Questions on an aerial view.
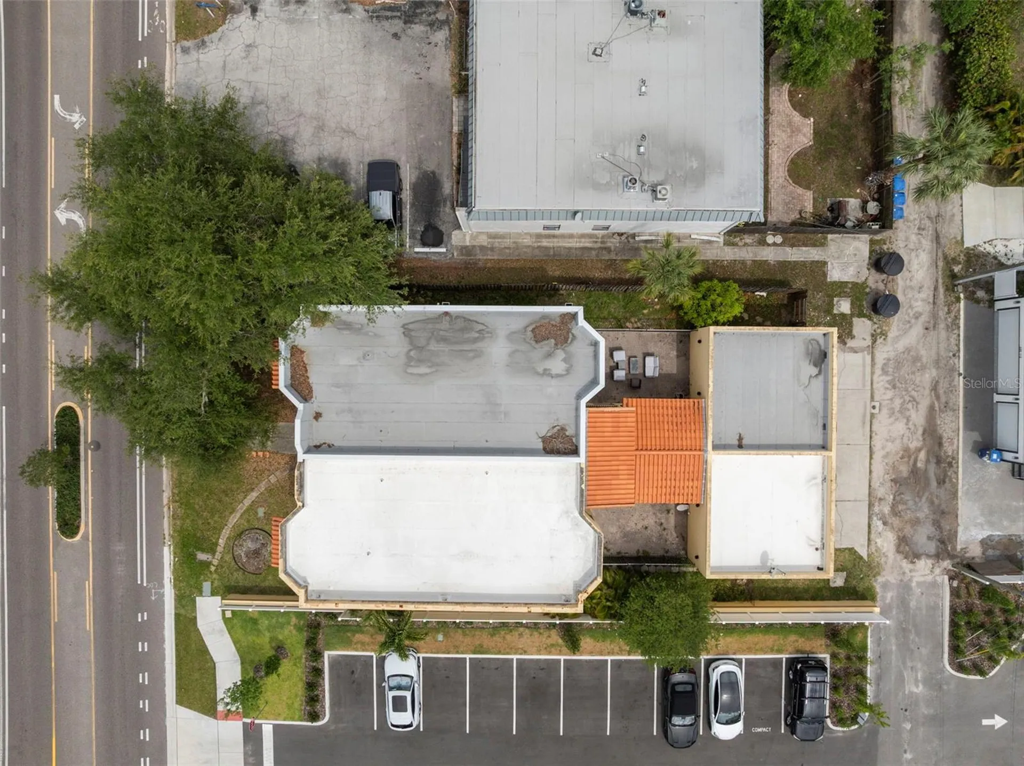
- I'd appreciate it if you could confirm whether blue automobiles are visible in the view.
No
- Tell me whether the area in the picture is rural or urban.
urban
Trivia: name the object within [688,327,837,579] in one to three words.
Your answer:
building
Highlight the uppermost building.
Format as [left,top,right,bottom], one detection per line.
[456,0,764,233]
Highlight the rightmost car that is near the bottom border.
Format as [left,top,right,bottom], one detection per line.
[784,648,834,739]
